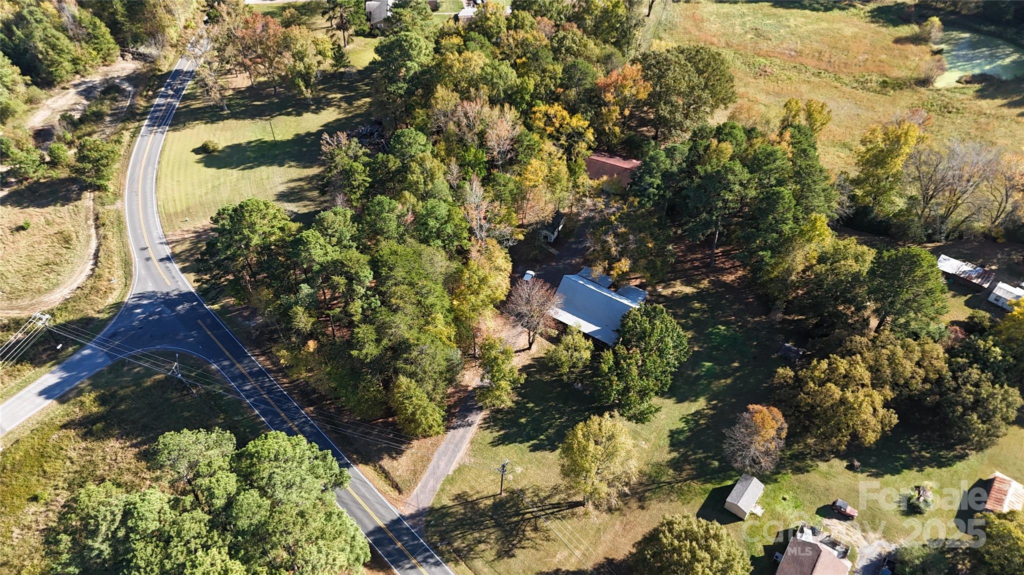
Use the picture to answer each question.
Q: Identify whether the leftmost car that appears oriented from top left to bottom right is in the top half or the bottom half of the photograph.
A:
bottom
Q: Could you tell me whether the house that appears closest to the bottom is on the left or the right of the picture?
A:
right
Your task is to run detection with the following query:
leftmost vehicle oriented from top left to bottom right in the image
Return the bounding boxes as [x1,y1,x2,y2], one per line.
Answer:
[833,500,860,522]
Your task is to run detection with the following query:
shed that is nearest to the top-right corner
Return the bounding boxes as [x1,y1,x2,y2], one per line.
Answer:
[937,255,995,295]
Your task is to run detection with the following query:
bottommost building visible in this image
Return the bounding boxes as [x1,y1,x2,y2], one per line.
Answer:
[766,534,843,575]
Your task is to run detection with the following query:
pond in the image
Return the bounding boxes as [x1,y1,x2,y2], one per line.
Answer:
[932,28,1024,94]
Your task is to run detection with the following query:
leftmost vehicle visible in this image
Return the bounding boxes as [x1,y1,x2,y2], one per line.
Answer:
[522,272,534,290]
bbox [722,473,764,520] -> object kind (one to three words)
shed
